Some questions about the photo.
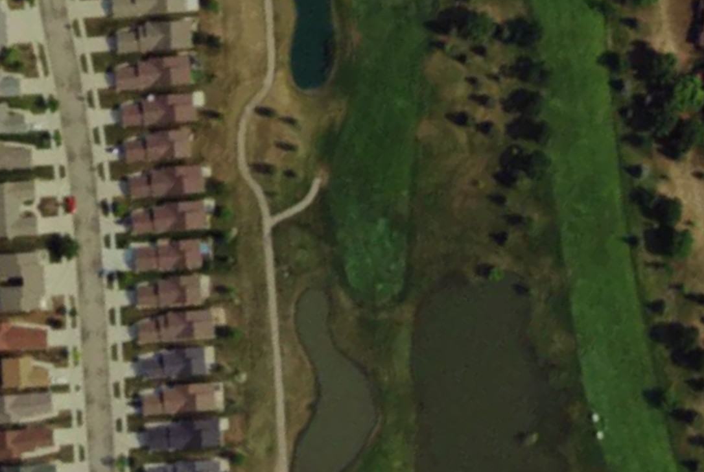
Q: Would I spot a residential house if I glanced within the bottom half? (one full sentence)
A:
Yes, a residential house shows up within the bottom half.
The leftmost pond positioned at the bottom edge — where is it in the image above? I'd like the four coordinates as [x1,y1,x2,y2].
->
[294,290,377,472]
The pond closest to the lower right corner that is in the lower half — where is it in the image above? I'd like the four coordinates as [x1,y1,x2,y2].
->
[412,279,569,472]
